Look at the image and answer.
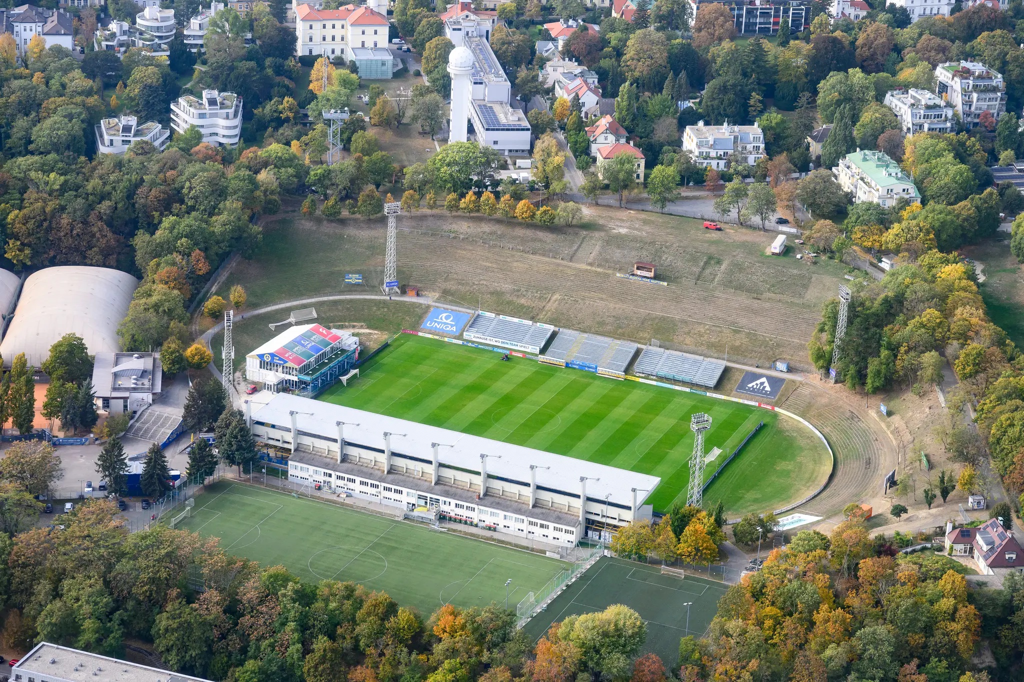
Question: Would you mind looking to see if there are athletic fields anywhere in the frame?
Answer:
Yes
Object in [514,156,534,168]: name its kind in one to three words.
vehicle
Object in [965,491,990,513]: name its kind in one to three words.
shed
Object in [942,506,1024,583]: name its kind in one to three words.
house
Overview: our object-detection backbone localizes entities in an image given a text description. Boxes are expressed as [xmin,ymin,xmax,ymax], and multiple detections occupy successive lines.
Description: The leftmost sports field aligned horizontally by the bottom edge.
[159,480,580,664]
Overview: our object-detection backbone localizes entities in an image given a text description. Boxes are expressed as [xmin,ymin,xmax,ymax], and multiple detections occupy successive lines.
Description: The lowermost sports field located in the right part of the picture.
[529,553,747,682]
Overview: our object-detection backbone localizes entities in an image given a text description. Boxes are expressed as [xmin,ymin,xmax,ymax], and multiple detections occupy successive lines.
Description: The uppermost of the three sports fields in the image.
[308,333,836,522]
